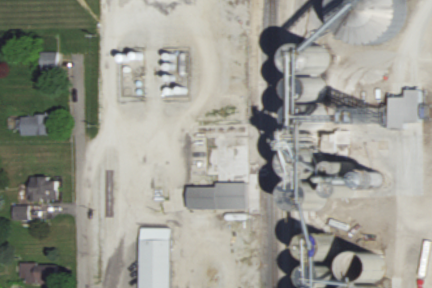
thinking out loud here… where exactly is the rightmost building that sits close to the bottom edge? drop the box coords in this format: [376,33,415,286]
[139,229,174,288]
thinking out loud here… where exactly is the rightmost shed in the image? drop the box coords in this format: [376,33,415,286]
[386,89,426,129]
